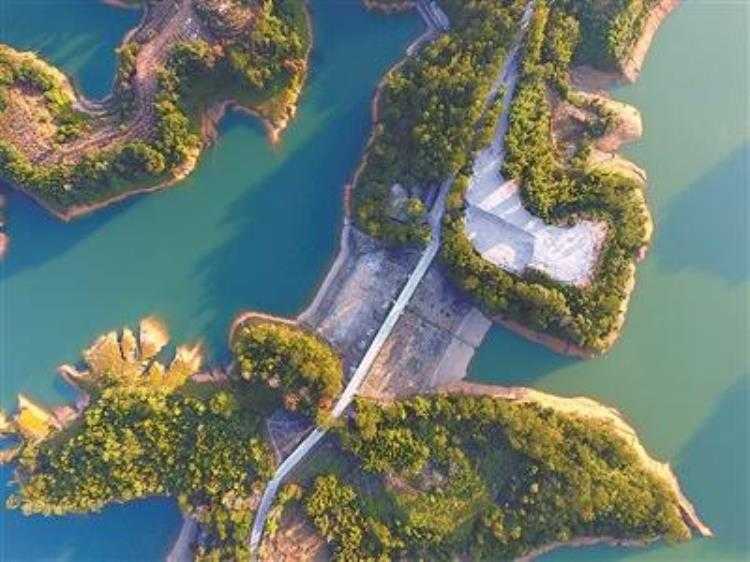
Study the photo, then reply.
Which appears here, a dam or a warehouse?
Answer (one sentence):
Visible in the photo is a dam.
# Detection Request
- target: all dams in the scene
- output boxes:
[294,212,492,418]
